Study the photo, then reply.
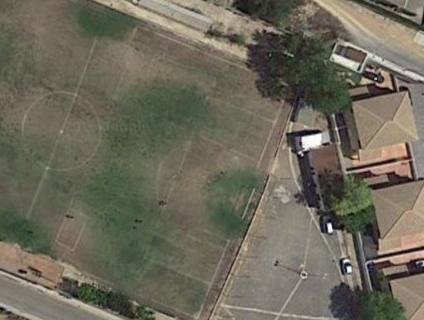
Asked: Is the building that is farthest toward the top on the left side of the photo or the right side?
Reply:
right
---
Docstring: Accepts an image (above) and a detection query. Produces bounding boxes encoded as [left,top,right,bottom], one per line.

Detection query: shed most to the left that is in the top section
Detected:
[290,107,318,129]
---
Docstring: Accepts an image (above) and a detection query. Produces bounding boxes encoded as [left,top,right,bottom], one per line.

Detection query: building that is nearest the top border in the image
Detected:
[325,41,369,64]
